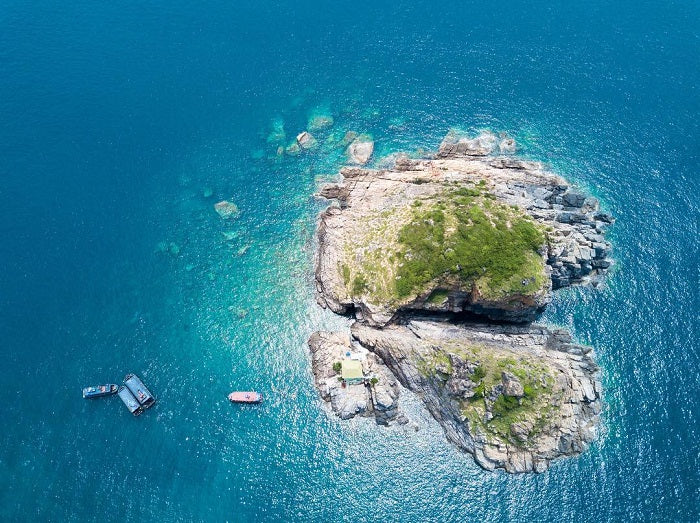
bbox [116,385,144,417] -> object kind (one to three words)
boat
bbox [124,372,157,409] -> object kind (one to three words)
boat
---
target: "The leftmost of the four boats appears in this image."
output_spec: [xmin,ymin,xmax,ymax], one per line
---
[82,385,118,399]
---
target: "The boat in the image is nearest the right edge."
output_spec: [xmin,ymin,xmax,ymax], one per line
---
[228,390,264,404]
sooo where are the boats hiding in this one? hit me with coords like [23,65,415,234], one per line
[116,385,144,417]
[82,385,118,399]
[228,390,264,404]
[124,372,157,409]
